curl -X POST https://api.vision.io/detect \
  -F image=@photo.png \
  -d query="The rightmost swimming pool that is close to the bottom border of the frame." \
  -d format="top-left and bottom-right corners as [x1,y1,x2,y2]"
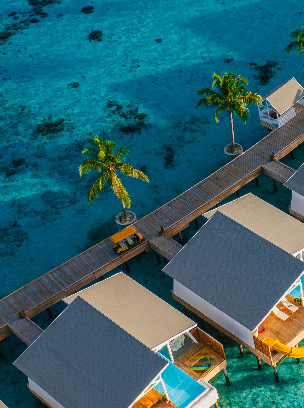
[154,353,207,407]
